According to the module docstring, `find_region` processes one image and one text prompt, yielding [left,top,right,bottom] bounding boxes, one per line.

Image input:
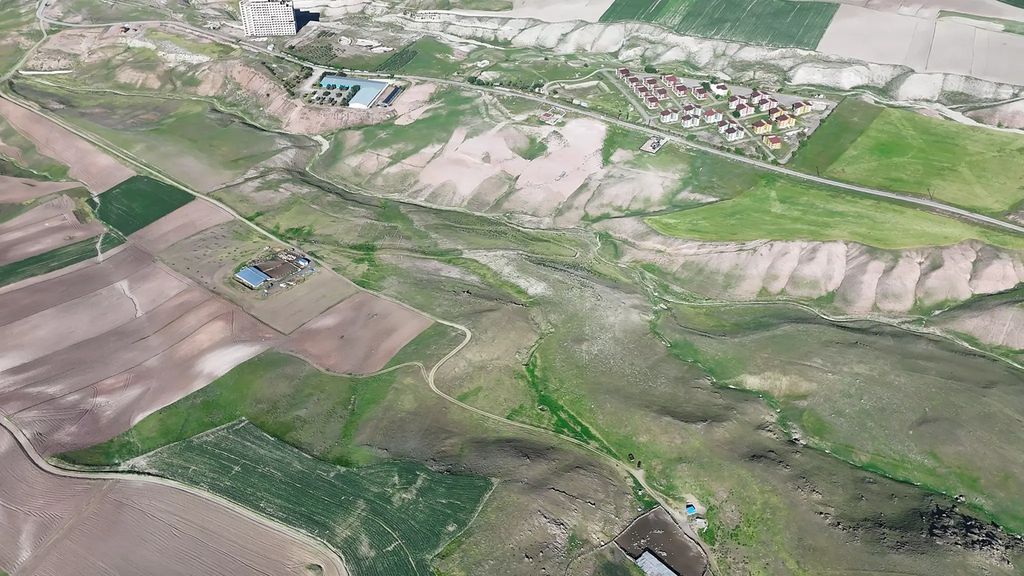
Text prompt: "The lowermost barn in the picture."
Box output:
[635,548,676,576]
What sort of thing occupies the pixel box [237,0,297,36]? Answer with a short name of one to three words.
building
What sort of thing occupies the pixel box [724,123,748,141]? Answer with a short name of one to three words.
house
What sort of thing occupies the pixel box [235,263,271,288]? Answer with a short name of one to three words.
barn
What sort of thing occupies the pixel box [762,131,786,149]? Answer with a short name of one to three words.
house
